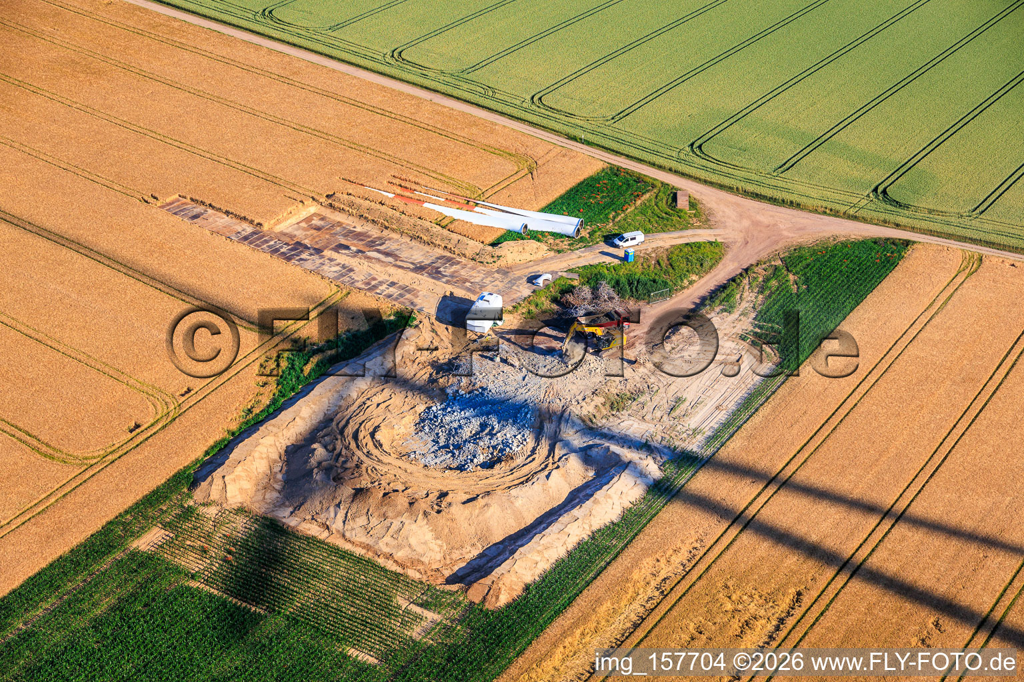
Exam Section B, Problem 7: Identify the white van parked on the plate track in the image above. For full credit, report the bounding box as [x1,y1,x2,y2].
[613,228,644,247]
